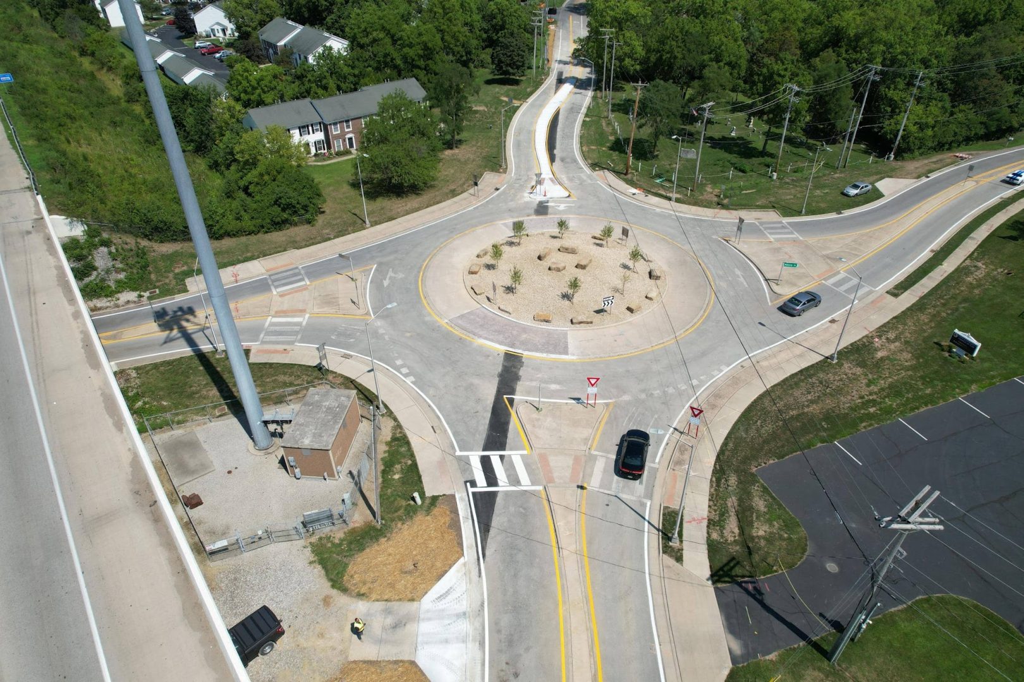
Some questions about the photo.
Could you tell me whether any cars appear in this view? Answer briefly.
Yes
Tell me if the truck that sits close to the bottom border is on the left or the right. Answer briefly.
left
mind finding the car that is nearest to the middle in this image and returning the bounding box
[615,424,653,483]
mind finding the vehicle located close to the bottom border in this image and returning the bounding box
[229,603,290,670]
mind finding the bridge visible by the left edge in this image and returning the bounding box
[0,195,252,682]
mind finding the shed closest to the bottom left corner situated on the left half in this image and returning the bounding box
[278,392,356,480]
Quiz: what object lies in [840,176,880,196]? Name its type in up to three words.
car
